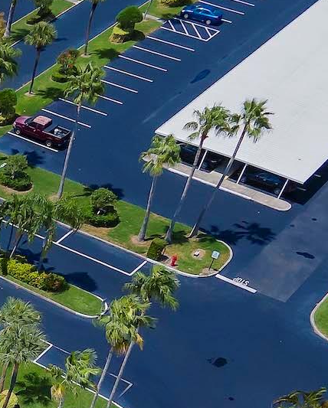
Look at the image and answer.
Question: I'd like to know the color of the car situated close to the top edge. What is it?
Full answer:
The car situated close to the top edge looks blue in the image.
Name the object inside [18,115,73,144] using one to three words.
truck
